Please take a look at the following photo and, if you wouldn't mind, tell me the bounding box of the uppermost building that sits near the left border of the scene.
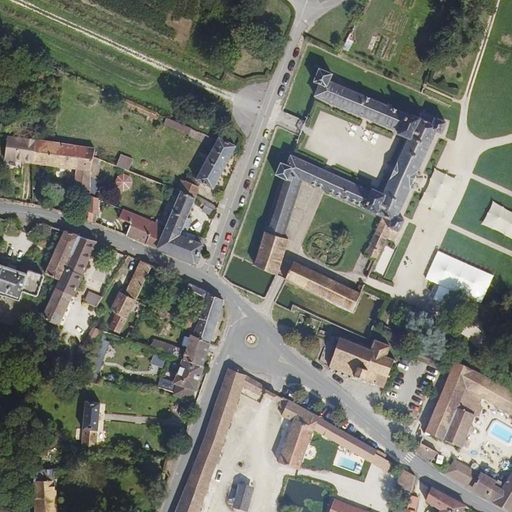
[4,136,102,194]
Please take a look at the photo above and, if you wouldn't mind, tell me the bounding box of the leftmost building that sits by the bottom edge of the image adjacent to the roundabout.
[176,368,264,512]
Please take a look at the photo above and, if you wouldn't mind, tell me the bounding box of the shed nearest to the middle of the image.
[254,232,288,275]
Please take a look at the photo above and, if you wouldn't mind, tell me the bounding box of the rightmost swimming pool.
[488,422,512,446]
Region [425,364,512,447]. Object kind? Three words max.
building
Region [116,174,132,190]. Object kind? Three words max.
gazebo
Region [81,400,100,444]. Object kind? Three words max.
house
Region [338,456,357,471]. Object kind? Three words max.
swimming pool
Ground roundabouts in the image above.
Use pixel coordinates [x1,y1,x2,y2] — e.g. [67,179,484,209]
[229,317,274,362]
